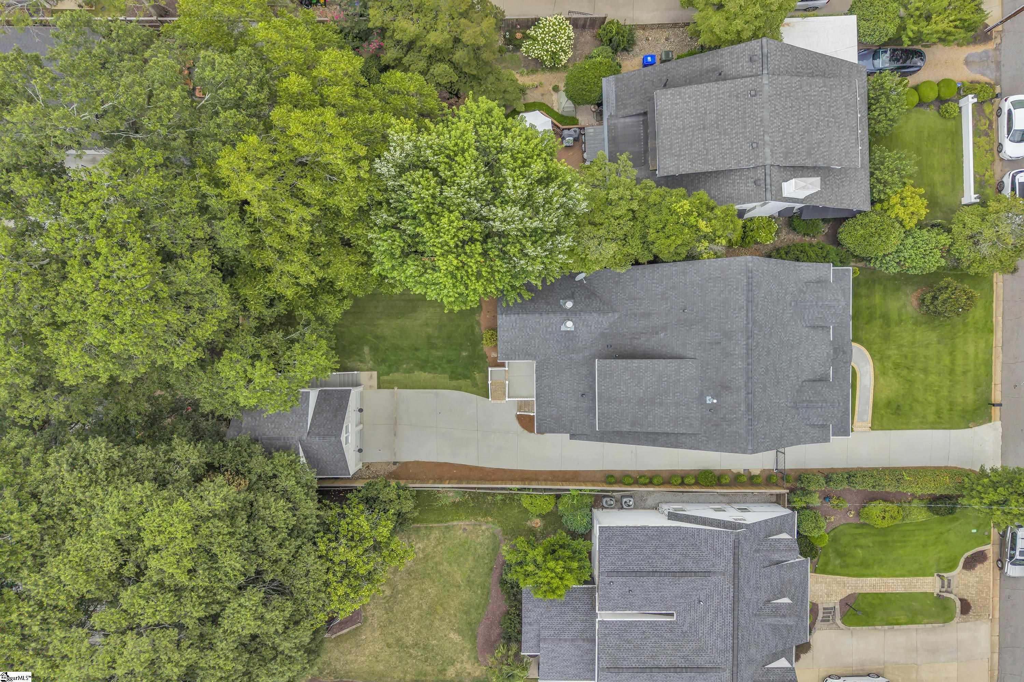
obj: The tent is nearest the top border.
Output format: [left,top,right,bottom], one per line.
[558,90,578,118]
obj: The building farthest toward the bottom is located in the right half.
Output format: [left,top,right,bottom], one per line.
[521,504,811,682]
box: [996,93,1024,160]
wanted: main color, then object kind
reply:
white car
